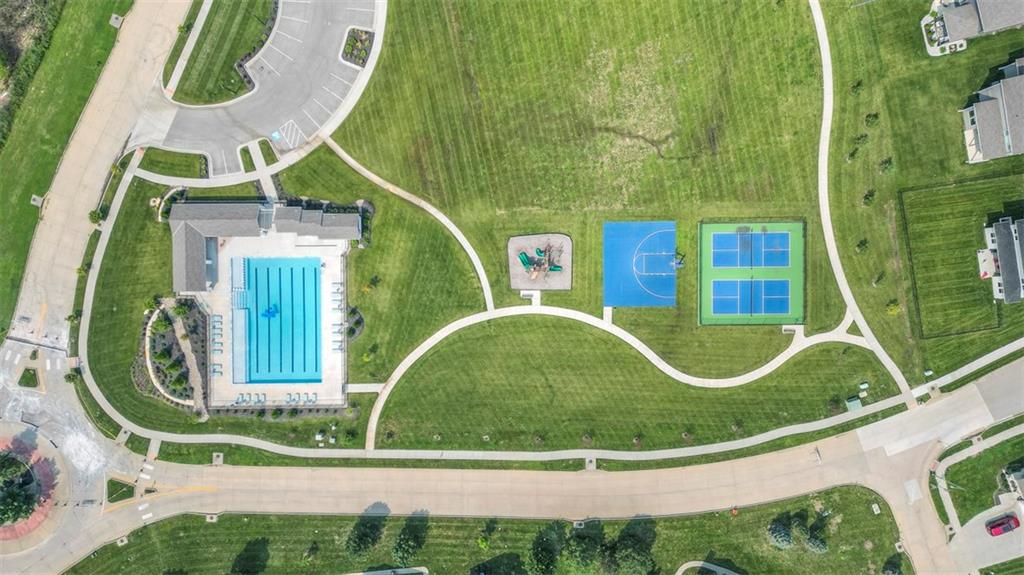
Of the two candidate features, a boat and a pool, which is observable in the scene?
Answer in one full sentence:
It is a pool that can be seen here.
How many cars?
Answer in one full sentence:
The picture shows just 1 car.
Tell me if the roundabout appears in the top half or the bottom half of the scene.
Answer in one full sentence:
Seen from above, the roundabout lies in the bottom half of the view.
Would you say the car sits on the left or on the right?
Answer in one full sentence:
The car is on the right side of the image.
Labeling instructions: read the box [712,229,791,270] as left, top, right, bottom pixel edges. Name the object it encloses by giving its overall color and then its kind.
blue sports court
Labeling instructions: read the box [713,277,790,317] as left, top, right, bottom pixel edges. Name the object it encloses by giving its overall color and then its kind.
blue sports court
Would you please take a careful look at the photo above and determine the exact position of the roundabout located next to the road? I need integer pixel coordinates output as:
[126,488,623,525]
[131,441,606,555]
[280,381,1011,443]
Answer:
[0,420,72,557]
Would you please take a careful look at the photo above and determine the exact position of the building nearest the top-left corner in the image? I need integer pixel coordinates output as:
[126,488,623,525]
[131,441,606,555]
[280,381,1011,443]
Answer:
[167,204,264,292]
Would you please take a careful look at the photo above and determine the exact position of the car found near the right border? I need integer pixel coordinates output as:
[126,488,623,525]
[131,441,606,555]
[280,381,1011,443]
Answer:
[987,515,1020,535]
